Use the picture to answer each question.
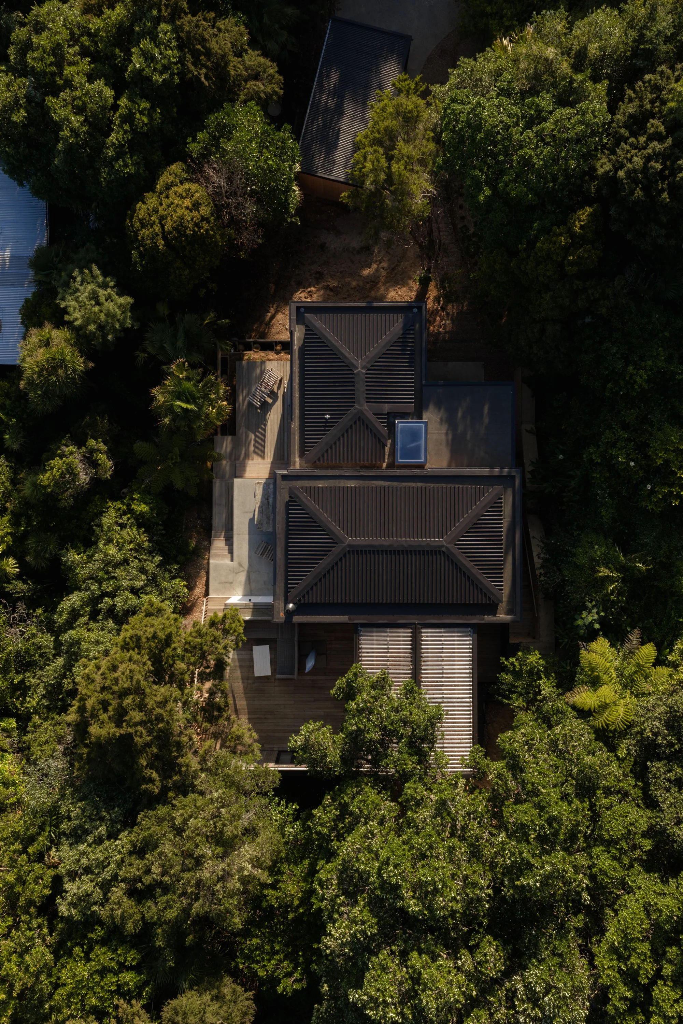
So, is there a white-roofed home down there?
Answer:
No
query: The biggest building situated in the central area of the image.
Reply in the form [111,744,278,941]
[273,301,523,623]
